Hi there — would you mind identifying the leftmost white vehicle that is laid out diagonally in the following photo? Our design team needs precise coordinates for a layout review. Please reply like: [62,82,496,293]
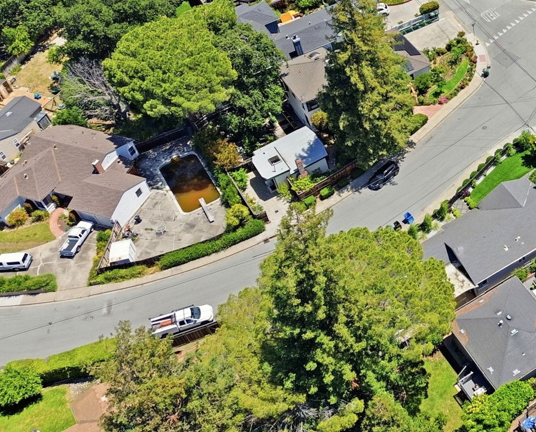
[51,218,98,264]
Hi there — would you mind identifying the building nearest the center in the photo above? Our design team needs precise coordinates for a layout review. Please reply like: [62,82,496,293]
[252,128,329,196]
